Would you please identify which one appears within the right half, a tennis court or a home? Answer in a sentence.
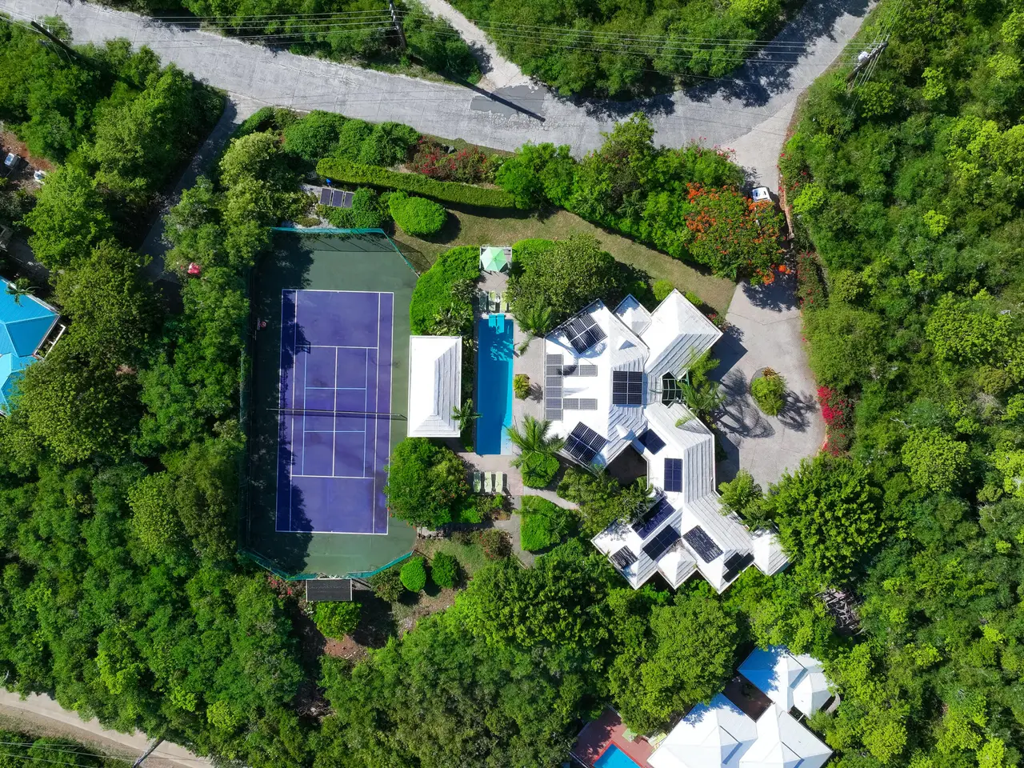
You can see a home within the right half.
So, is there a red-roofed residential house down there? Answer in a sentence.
No, the photo shows no red-roofed residential house.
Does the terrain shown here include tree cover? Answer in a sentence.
Yes, the picture does contain tree cover.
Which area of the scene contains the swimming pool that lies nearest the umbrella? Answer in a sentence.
The swimming pool that lies nearest the umbrella sits in the center section of the image.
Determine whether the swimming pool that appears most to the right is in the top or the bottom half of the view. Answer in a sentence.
It is in the bottom half that the swimming pool that appears most to the right appears.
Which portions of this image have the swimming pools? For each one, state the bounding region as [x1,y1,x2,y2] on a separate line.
[590,740,648,768]
[473,312,517,459]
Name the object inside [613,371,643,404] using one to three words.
solar array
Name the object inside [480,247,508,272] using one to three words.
umbrella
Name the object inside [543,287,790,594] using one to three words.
house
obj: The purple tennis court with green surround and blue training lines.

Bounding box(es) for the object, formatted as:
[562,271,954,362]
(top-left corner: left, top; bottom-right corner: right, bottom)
[250,234,421,574]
